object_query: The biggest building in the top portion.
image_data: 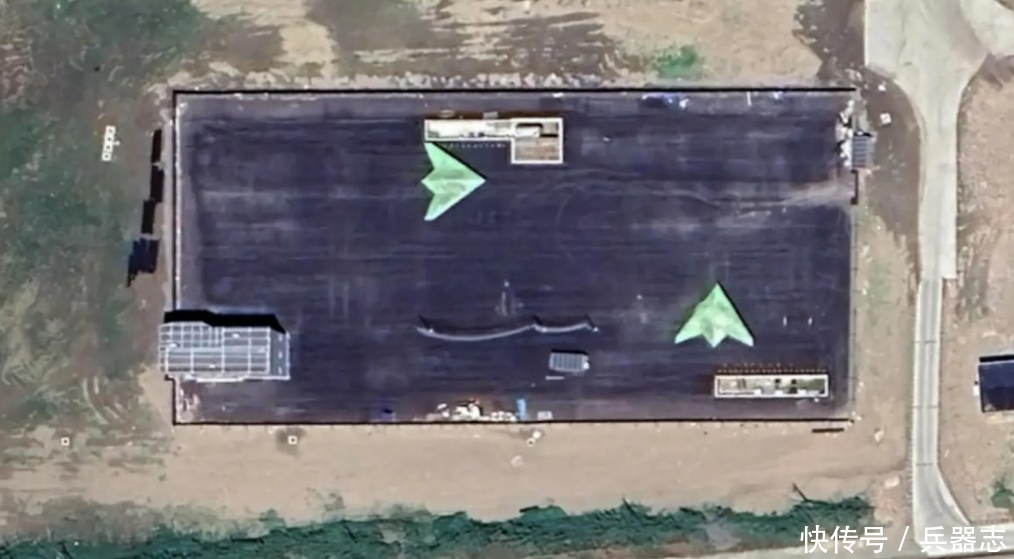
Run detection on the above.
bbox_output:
[424,119,566,165]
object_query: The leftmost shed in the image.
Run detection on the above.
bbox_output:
[160,322,288,382]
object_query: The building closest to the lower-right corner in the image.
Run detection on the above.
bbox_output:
[978,361,1014,414]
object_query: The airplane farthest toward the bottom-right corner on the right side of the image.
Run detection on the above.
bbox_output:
[677,283,753,347]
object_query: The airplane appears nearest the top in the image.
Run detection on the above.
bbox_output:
[422,143,486,219]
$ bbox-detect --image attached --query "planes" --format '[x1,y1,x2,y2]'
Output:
[677,283,753,347]
[422,143,486,219]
